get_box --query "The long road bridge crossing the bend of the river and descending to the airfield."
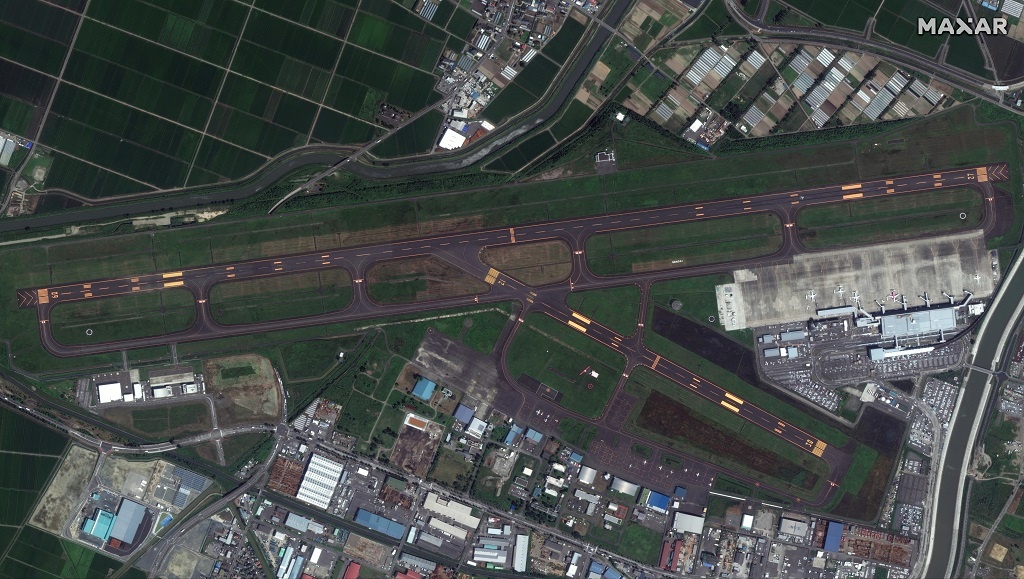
[268,134,385,213]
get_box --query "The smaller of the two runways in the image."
[483,267,828,457]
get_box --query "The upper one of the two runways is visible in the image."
[17,165,1008,306]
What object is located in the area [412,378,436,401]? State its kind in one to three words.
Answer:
hangar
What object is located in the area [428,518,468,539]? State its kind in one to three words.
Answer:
building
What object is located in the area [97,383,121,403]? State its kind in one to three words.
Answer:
hangar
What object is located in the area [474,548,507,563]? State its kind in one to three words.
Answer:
building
